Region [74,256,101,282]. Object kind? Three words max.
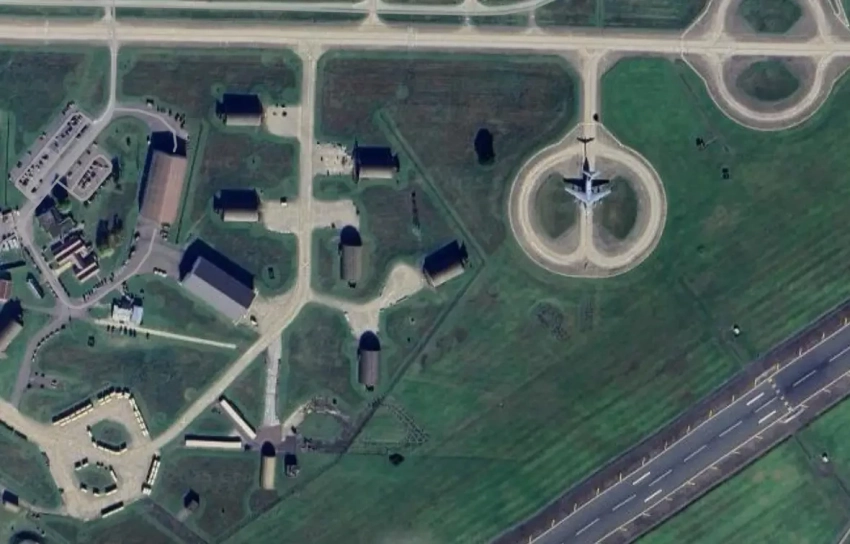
building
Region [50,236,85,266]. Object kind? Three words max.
building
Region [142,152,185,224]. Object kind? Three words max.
hangar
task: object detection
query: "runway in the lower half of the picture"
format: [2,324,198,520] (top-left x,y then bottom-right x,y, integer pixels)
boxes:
[486,296,850,544]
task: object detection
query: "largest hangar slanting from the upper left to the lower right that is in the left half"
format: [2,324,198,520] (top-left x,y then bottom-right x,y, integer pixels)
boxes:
[182,259,254,321]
